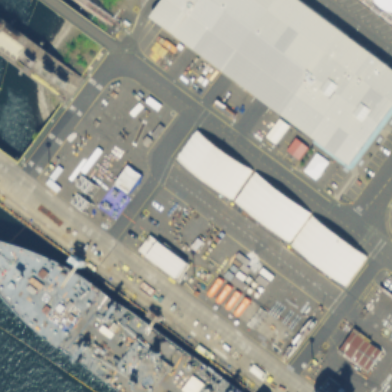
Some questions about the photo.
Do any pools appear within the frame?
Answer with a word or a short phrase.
No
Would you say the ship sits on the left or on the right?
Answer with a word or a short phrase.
left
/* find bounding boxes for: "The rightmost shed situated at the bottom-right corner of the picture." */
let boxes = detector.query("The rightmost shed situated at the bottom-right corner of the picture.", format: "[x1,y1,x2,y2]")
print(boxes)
[340,330,382,372]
